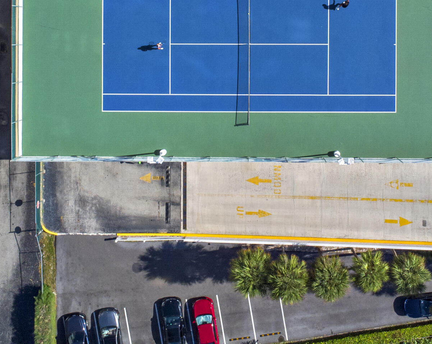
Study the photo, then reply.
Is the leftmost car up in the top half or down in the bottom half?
bottom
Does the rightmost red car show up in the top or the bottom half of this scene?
bottom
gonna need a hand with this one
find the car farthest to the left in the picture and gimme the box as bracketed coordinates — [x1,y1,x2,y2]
[67,312,92,344]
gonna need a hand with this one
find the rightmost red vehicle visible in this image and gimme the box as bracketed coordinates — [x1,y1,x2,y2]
[193,296,220,344]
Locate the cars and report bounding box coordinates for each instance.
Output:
[404,294,432,321]
[163,298,190,344]
[67,312,92,344]
[101,308,127,344]
[193,296,220,344]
